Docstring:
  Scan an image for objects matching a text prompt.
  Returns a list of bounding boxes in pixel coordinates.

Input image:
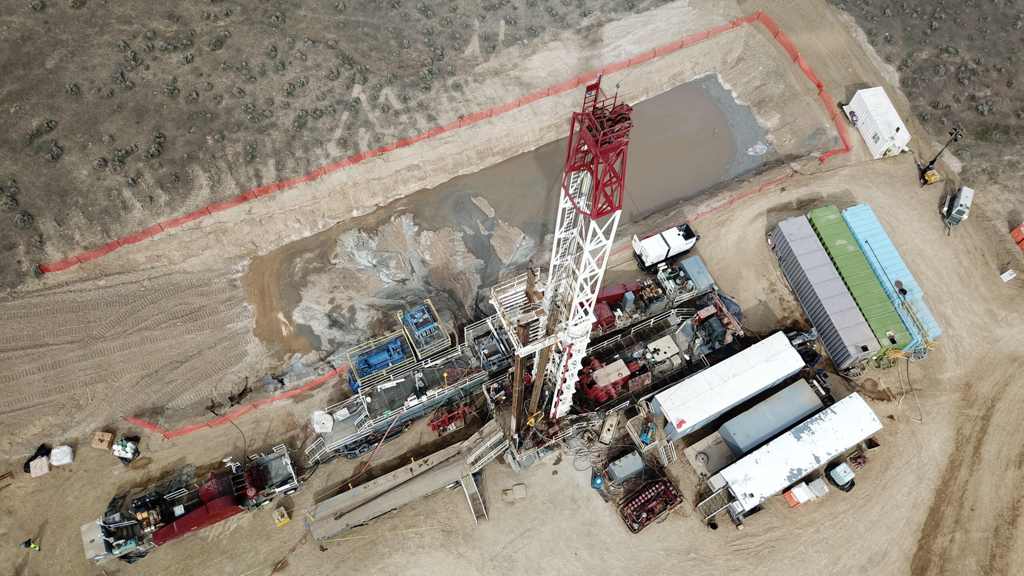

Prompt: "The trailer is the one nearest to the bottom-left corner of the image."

[81,445,302,565]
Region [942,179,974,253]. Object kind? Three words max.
trailer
